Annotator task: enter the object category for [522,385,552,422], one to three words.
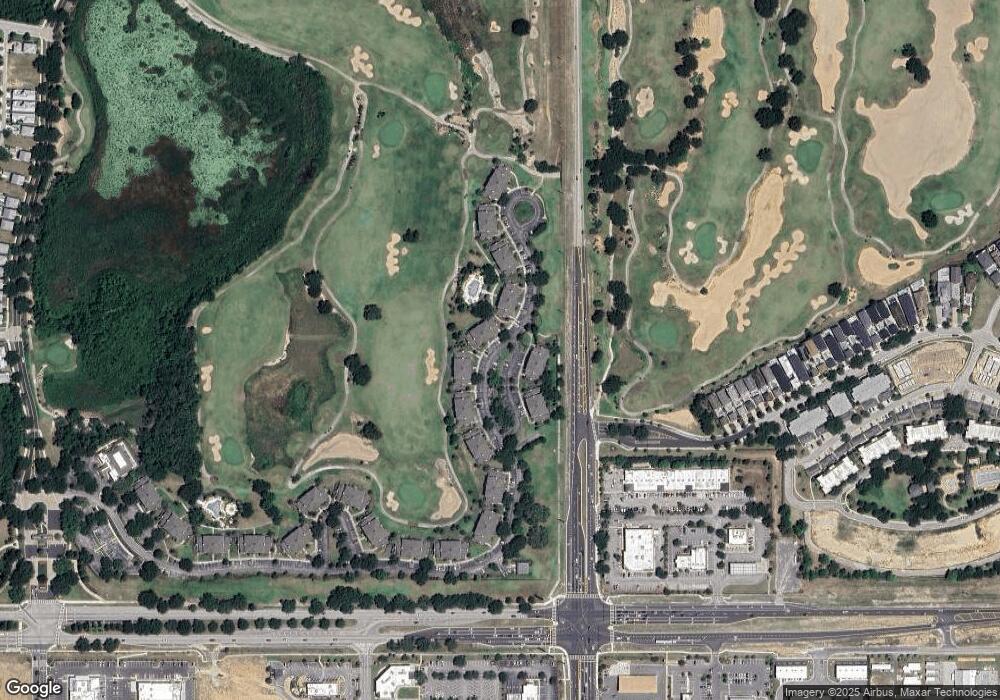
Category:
building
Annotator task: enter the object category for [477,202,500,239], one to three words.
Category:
building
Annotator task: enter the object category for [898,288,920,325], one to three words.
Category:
house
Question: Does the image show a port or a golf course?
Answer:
golf course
